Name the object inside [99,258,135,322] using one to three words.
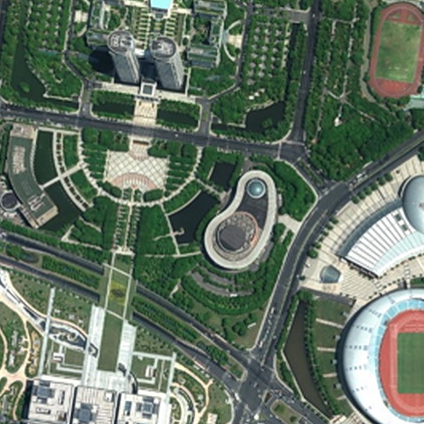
bridge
